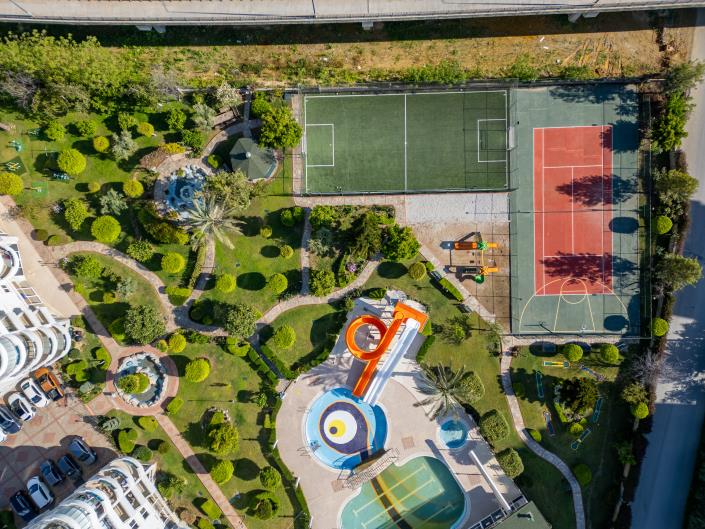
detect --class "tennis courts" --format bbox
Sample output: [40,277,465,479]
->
[511,82,640,335]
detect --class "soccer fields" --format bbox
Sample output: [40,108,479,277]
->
[304,87,510,194]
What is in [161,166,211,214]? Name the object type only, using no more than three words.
pond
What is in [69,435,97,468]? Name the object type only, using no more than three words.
car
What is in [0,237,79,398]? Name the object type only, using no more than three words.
building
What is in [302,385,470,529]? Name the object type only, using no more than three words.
swimming pool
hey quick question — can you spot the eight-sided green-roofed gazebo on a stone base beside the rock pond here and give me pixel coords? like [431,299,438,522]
[228,134,282,188]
